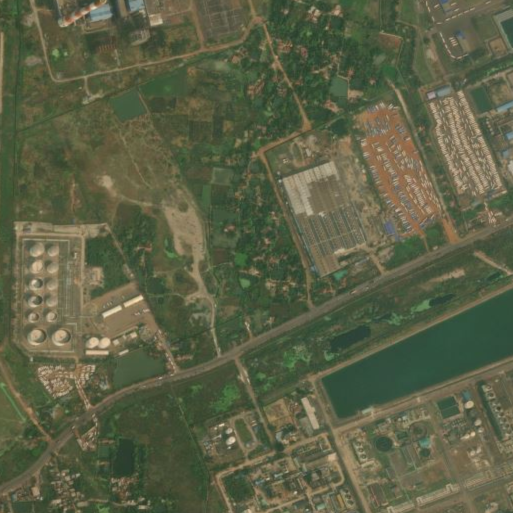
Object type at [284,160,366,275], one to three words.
building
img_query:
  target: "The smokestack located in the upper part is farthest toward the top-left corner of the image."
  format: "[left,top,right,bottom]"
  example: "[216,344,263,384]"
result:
[57,0,93,29]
